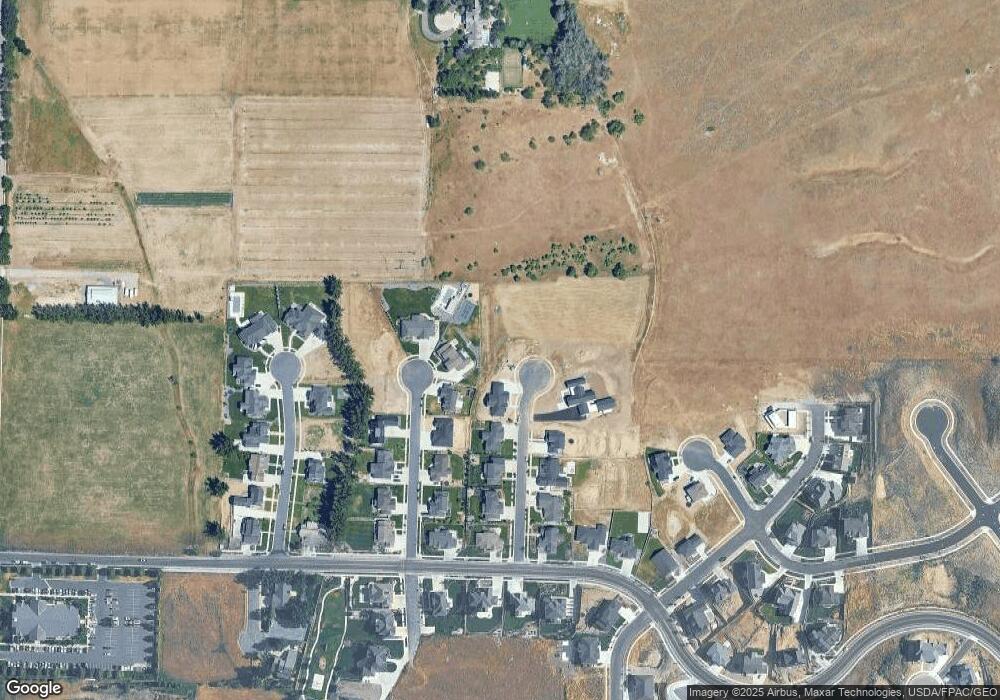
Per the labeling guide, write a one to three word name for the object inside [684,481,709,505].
house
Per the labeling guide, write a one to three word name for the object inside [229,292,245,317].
swimming pool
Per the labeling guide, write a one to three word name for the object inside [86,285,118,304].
barn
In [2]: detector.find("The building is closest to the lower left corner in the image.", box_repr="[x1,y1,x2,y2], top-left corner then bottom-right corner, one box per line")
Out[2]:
[13,599,80,643]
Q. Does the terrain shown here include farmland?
Yes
